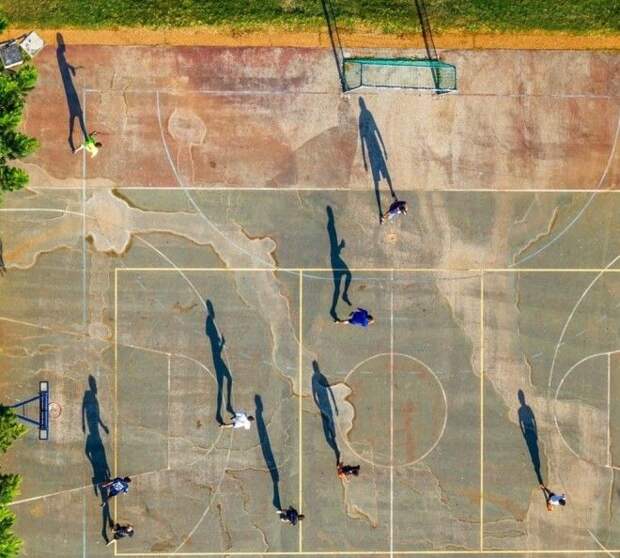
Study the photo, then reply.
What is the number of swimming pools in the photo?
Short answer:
0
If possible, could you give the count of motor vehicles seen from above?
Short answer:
0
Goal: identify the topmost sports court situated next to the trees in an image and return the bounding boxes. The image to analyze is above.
[0,45,620,322]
